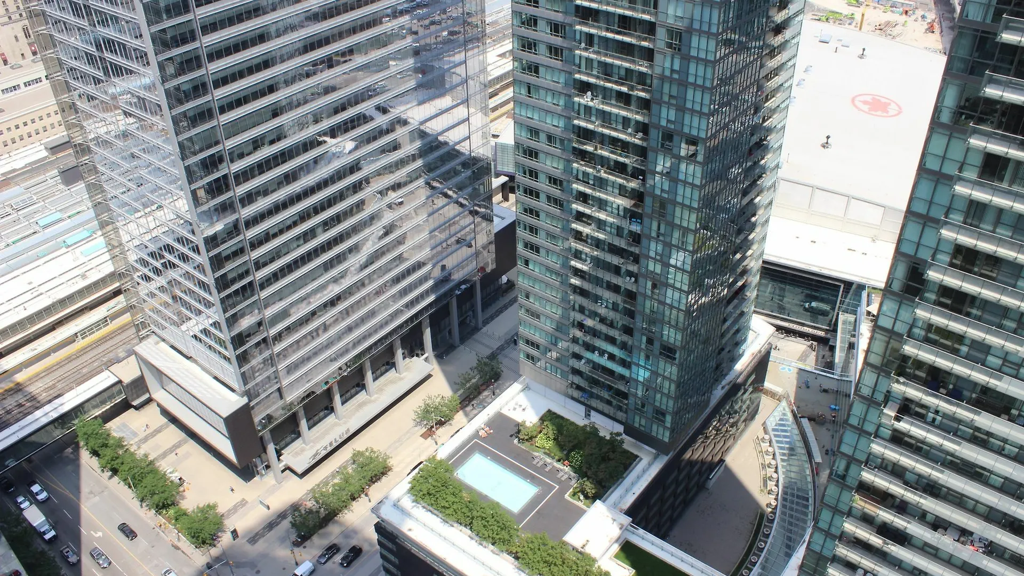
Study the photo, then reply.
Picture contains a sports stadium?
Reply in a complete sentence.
Yes, I can see a sports stadium in this picture.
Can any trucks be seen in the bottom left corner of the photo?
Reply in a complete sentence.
Yes, a truck can be seen in the bottom left corner of the photo.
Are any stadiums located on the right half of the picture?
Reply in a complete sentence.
Yes, looking on the right half of the picture, one can make out a stadium.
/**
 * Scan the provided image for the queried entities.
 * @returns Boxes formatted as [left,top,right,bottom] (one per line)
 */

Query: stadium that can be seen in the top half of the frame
[753,18,943,340]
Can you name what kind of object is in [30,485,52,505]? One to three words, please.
car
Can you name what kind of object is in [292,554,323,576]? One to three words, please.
vehicle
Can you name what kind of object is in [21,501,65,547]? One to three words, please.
truck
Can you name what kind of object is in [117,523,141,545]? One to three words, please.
car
